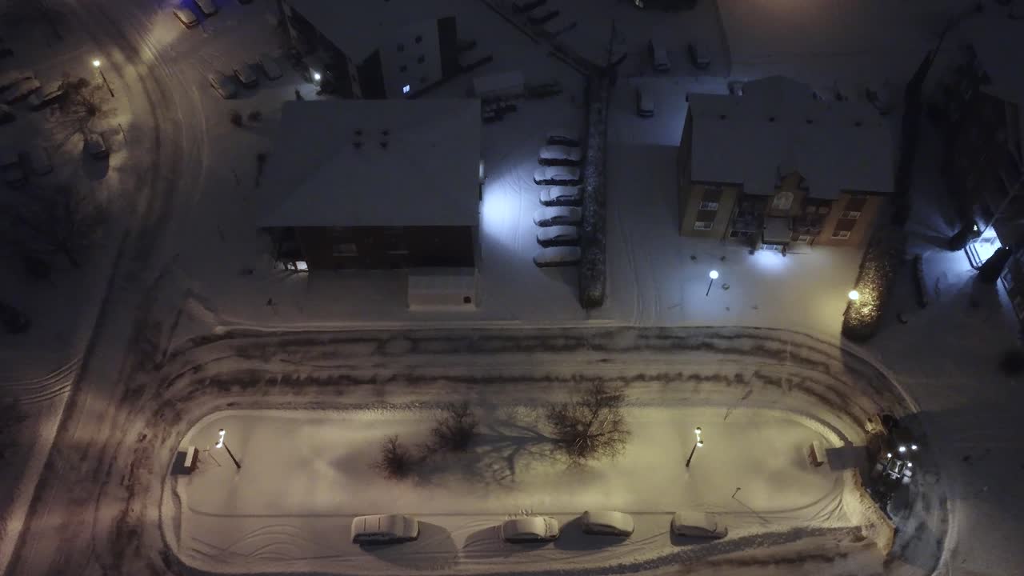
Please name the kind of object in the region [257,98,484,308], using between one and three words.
building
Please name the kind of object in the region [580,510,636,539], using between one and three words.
car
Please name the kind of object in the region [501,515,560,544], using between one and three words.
car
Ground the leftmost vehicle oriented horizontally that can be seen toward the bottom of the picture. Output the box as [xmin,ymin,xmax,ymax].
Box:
[351,513,418,546]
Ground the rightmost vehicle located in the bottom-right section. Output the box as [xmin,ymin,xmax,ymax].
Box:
[859,412,916,499]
